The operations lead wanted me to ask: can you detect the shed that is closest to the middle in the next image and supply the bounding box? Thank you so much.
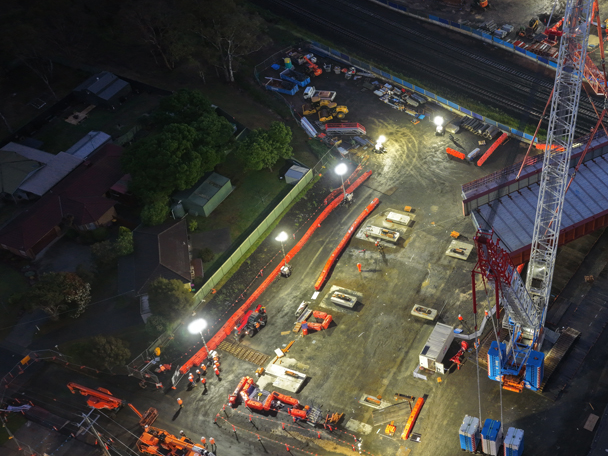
[285,165,310,186]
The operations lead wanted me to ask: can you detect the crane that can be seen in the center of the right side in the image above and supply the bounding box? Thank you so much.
[470,0,597,429]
